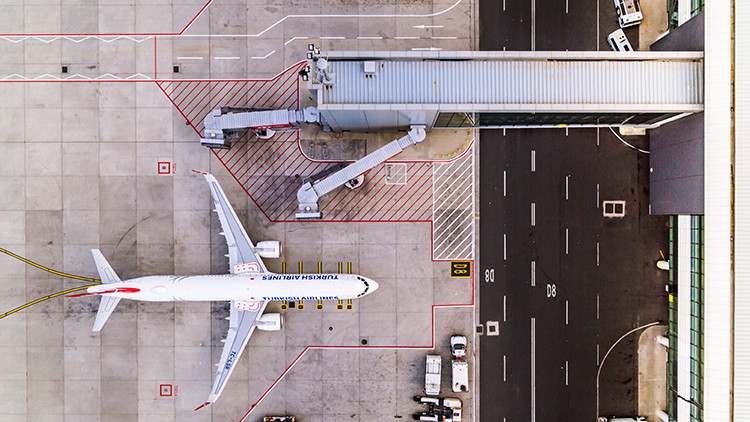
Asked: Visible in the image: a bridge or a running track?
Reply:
bridge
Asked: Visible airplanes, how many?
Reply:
1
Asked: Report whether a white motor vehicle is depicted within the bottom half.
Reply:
Yes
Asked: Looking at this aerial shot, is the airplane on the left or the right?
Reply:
left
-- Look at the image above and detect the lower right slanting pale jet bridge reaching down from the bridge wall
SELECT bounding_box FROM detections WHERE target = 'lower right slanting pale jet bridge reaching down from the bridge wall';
[297,123,426,221]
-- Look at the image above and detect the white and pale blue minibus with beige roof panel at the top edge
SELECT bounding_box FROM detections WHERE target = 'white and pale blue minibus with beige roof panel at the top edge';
[607,0,639,33]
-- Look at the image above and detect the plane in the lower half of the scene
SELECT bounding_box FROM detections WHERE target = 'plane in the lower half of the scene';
[64,170,379,413]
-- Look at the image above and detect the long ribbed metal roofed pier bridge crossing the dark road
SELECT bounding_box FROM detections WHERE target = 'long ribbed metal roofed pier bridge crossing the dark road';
[308,51,704,132]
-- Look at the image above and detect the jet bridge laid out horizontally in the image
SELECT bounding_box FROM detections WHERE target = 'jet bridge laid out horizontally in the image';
[201,103,328,150]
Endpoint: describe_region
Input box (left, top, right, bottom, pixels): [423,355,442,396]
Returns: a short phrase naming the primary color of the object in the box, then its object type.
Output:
white vehicle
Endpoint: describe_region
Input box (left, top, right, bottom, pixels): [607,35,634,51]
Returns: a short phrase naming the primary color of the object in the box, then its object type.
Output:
white vehicle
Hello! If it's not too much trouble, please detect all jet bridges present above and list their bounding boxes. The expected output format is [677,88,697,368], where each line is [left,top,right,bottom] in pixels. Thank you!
[297,123,426,221]
[201,103,328,150]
